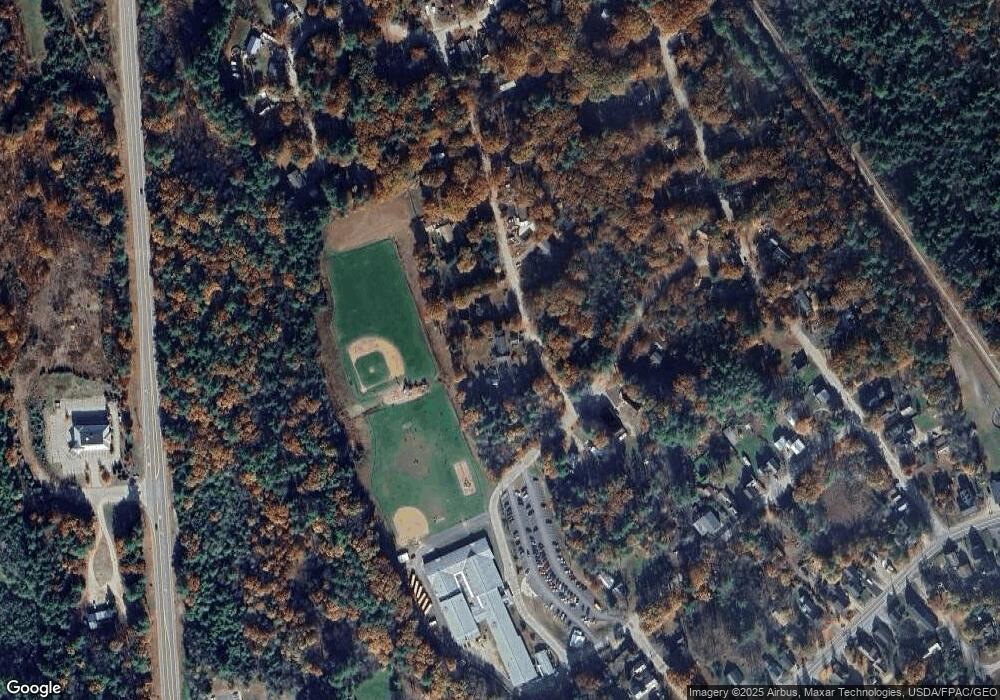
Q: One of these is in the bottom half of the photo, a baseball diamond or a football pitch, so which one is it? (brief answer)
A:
baseball diamond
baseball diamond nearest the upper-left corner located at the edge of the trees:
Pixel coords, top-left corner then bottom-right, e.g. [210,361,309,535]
[329,238,437,402]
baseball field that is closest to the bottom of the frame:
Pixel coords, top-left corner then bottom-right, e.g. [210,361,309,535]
[367,381,487,551]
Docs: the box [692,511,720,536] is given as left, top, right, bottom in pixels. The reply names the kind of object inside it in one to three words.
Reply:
house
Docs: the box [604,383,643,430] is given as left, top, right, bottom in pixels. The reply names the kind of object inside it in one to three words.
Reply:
building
